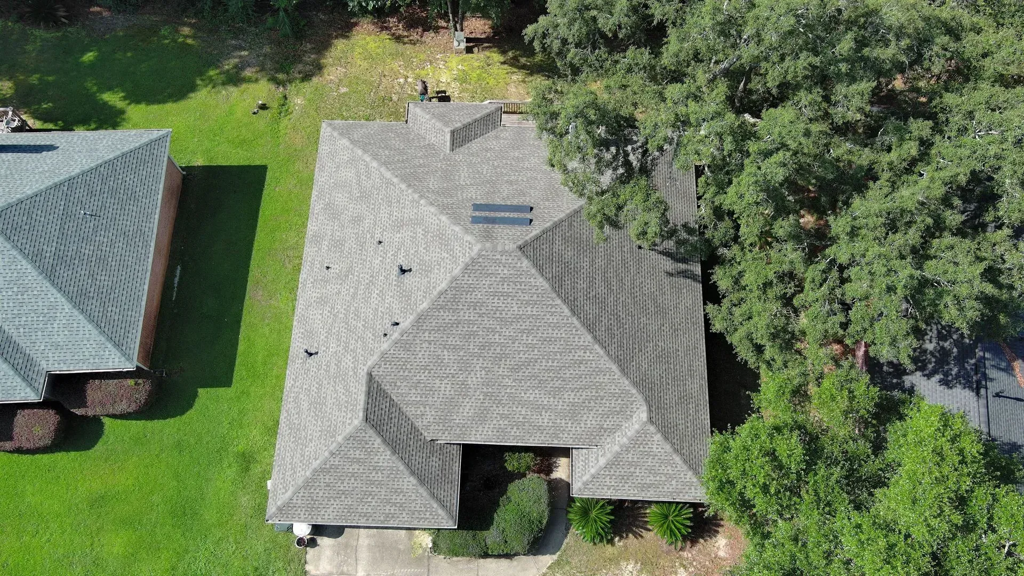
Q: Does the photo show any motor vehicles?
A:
No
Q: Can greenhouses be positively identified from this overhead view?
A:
No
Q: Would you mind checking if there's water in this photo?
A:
No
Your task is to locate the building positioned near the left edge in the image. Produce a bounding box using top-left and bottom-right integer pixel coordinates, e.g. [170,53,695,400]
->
[0,128,194,404]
